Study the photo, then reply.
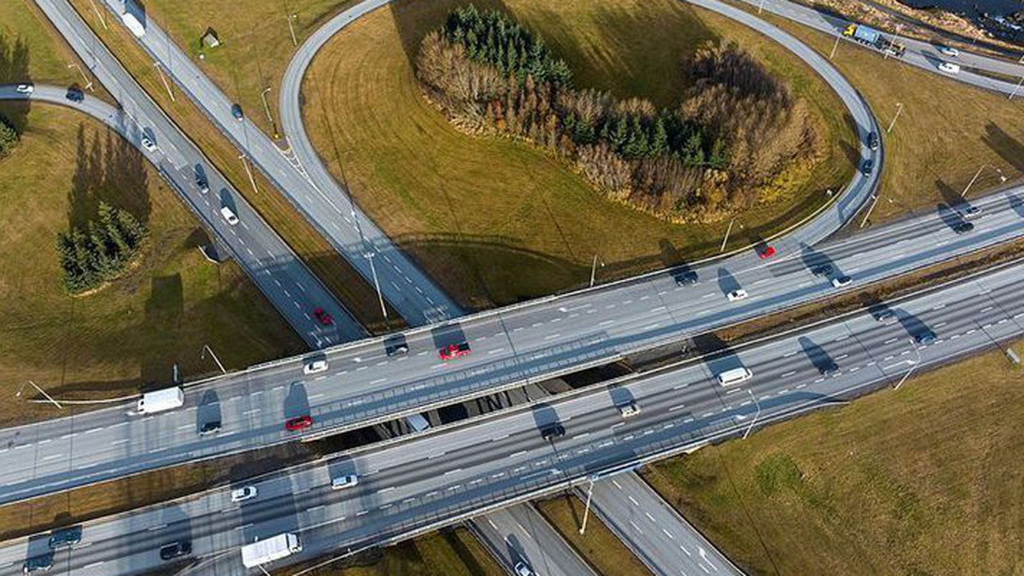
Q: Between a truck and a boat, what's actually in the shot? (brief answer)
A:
truck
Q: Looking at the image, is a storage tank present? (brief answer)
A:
No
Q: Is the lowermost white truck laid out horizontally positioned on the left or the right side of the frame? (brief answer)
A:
left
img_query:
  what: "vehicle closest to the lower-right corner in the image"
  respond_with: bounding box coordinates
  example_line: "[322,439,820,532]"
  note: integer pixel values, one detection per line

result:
[913,331,936,344]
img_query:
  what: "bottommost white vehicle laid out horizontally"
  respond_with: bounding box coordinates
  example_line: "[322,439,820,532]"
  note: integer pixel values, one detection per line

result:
[239,532,306,567]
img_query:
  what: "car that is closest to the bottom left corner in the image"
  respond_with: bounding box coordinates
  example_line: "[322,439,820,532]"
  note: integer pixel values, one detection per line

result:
[22,553,56,573]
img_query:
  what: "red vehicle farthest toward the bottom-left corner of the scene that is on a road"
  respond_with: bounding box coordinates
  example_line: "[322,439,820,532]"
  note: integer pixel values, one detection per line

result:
[285,415,313,431]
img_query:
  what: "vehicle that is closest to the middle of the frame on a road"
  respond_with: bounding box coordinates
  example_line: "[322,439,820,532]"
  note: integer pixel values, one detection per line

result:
[441,343,469,359]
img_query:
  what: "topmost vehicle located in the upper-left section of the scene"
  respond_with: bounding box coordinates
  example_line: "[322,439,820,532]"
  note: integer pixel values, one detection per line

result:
[122,13,145,36]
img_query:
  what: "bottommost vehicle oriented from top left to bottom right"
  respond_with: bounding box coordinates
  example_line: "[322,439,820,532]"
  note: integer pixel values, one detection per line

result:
[509,553,534,576]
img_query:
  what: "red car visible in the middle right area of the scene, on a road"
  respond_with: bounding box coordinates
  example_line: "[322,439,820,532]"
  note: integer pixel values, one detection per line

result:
[756,246,776,260]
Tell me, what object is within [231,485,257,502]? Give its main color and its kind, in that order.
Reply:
white car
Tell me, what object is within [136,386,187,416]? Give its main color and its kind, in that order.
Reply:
white truck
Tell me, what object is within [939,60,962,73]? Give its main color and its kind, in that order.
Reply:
white vehicle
